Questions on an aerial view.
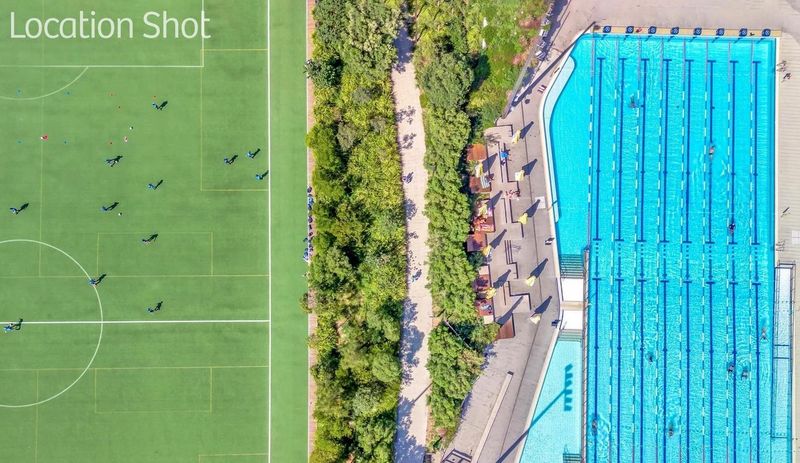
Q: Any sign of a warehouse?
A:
No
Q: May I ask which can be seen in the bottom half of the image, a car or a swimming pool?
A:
swimming pool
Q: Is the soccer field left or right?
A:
left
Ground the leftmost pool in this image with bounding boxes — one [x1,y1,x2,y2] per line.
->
[516,311,584,463]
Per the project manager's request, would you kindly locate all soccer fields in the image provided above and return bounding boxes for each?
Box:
[0,0,308,463]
